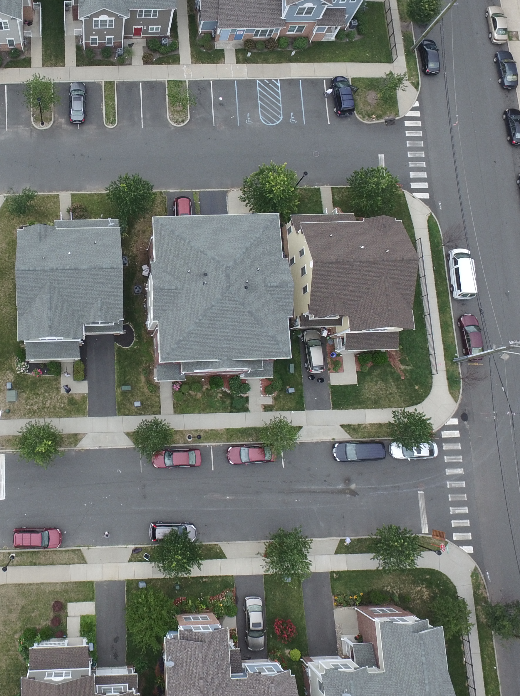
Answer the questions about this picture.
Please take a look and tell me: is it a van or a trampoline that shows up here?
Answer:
van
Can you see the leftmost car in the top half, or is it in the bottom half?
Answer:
bottom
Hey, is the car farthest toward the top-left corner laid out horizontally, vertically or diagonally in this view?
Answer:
vertically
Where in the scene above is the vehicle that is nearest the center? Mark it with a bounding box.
[302,330,326,373]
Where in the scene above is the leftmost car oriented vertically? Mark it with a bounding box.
[68,82,87,125]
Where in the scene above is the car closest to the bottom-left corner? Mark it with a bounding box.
[13,526,62,551]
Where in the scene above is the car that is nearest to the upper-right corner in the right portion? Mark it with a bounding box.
[484,6,510,45]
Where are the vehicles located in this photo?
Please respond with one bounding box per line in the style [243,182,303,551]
[13,526,62,551]
[302,330,326,373]
[458,315,487,361]
[226,444,278,466]
[152,449,202,470]
[449,249,481,300]
[494,51,520,91]
[503,109,520,146]
[325,77,362,117]
[484,6,510,45]
[173,193,192,216]
[243,596,269,651]
[387,441,440,462]
[68,82,87,125]
[418,39,441,76]
[331,439,388,463]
